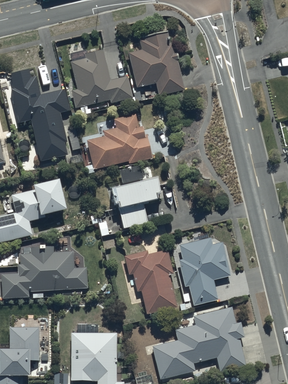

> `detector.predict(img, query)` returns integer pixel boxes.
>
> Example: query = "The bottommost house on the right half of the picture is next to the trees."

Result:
[153,307,247,381]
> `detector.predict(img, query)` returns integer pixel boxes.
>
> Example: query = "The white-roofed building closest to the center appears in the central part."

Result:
[110,176,162,229]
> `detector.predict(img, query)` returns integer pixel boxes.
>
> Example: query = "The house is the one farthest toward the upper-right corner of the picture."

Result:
[129,31,183,94]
